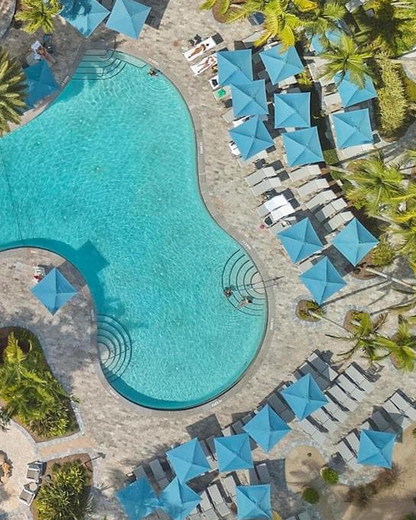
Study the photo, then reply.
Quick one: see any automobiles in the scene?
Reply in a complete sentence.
No, there is no automobile in the image.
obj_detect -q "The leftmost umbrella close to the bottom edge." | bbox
[114,475,160,519]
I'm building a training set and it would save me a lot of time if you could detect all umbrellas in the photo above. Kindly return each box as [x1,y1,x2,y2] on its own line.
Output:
[214,48,252,86]
[326,216,377,264]
[61,0,109,38]
[104,0,149,39]
[328,108,372,148]
[226,112,275,161]
[239,399,289,449]
[279,123,323,167]
[154,472,201,520]
[17,61,62,109]
[227,78,267,117]
[212,430,251,469]
[114,475,160,519]
[275,216,320,263]
[164,434,213,481]
[277,369,328,420]
[258,42,301,86]
[232,478,269,518]
[350,426,393,466]
[294,253,344,304]
[269,92,307,128]
[27,264,77,313]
